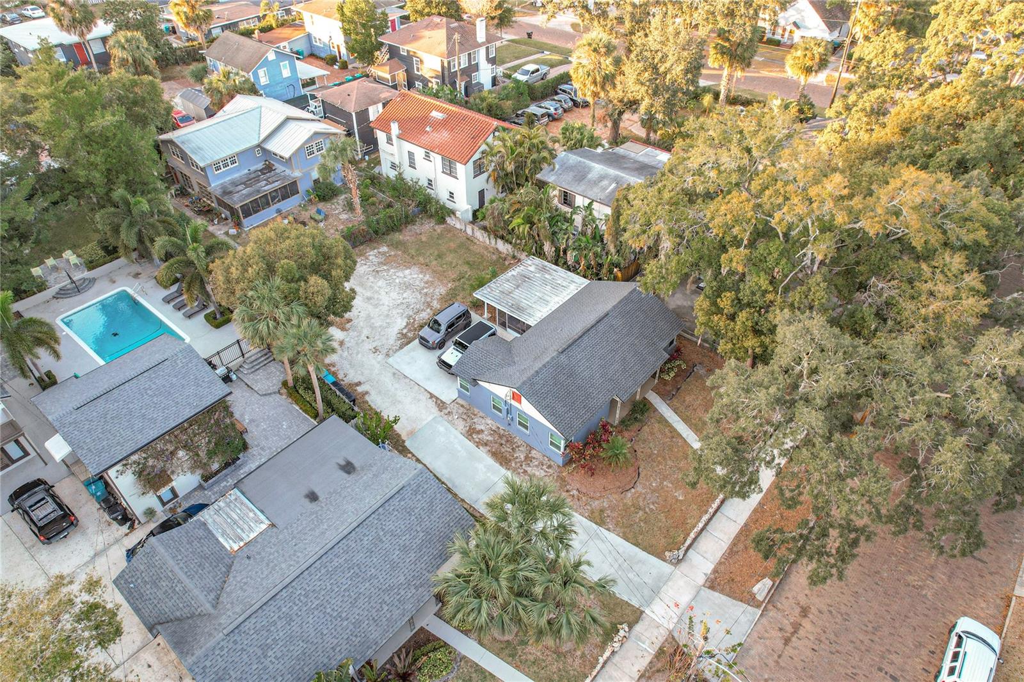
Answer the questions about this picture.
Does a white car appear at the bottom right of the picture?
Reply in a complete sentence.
Yes, I can see a white car at the bottom right of the picture.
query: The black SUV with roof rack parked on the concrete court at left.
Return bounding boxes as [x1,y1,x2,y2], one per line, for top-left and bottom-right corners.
[5,483,79,548]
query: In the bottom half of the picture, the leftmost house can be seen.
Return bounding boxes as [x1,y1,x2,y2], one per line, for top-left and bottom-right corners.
[0,400,47,475]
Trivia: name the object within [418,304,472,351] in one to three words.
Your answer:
car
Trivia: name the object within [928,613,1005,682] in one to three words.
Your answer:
car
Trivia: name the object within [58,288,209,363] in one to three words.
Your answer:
swimming pool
